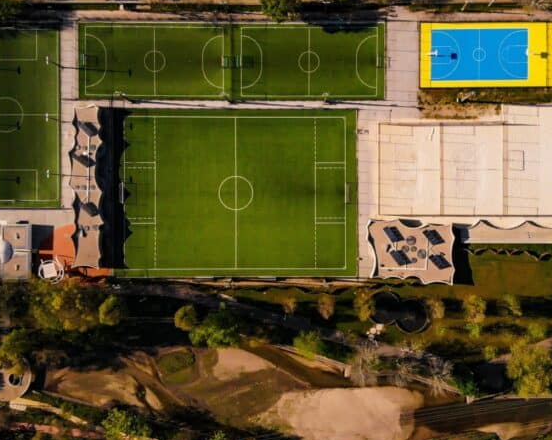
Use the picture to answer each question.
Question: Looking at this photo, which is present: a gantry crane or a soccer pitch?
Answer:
soccer pitch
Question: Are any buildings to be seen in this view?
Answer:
Yes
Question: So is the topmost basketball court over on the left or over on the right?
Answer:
right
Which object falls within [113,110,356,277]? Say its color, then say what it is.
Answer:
green soccer field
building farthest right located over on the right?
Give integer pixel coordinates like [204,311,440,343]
[368,219,455,286]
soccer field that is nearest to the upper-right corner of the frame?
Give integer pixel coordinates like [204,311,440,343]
[232,23,386,100]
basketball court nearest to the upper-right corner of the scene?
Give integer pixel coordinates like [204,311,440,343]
[420,23,552,87]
